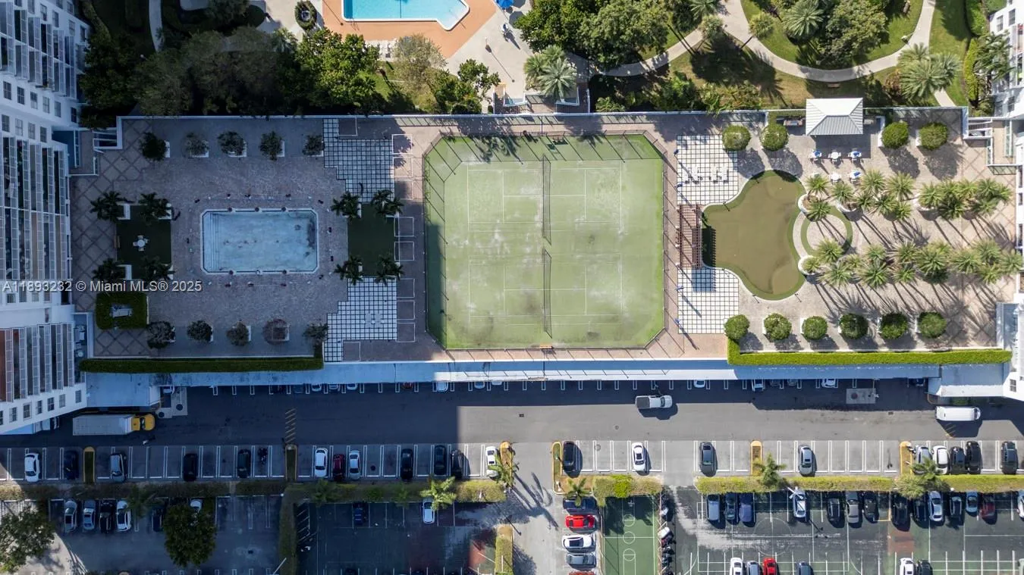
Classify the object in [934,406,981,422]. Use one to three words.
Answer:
vehicle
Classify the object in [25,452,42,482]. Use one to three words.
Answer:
car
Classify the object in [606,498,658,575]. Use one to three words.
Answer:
basketball court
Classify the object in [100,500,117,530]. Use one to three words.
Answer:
car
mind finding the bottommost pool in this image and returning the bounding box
[200,209,318,274]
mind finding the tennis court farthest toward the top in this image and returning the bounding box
[426,135,665,349]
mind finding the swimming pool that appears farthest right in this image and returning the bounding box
[322,0,497,58]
